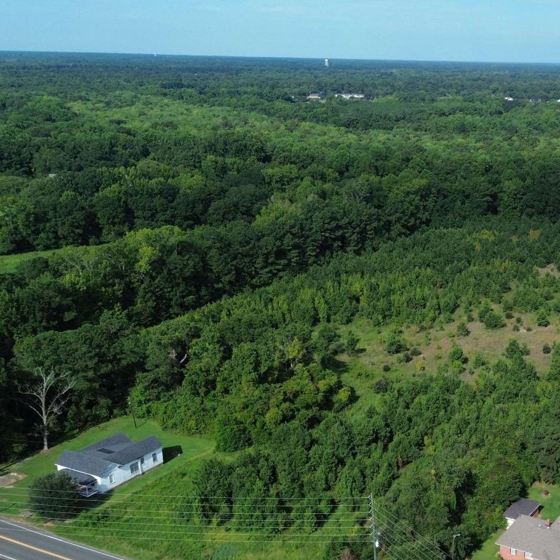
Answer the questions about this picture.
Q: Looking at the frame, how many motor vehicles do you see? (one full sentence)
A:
There are no motor vehicles in the image.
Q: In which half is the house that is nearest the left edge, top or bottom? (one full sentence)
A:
The house that is nearest the left edge is in the bottom half of the image.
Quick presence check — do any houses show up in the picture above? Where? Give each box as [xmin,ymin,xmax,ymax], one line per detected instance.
[51,433,169,496]
[495,509,560,560]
